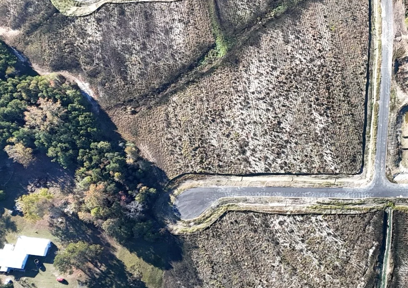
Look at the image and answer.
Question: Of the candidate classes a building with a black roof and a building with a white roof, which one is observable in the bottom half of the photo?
building with a white roof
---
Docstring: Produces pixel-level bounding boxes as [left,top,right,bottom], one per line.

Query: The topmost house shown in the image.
[14,236,53,258]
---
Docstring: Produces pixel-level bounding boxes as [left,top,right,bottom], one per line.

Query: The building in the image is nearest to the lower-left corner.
[0,244,32,275]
